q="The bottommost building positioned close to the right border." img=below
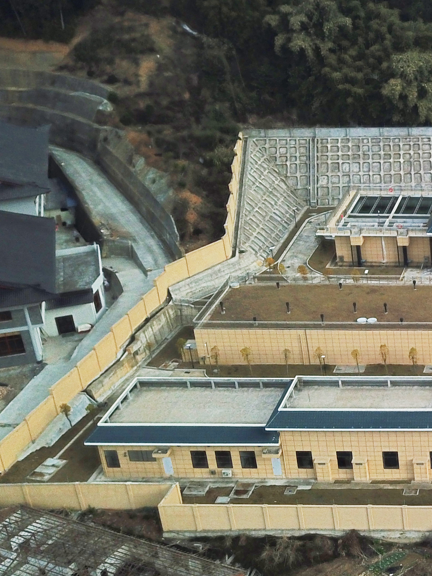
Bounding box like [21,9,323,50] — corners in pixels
[264,375,432,487]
